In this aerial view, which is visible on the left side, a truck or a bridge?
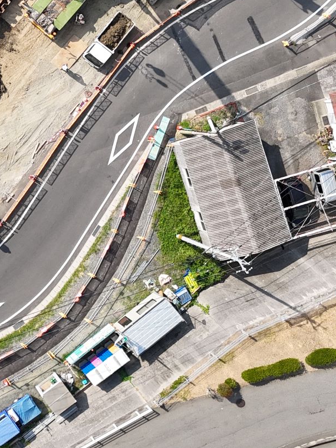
truck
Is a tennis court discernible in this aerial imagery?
No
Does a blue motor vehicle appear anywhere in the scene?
Yes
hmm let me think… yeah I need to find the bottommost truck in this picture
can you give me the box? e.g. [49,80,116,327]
[0,389,49,448]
